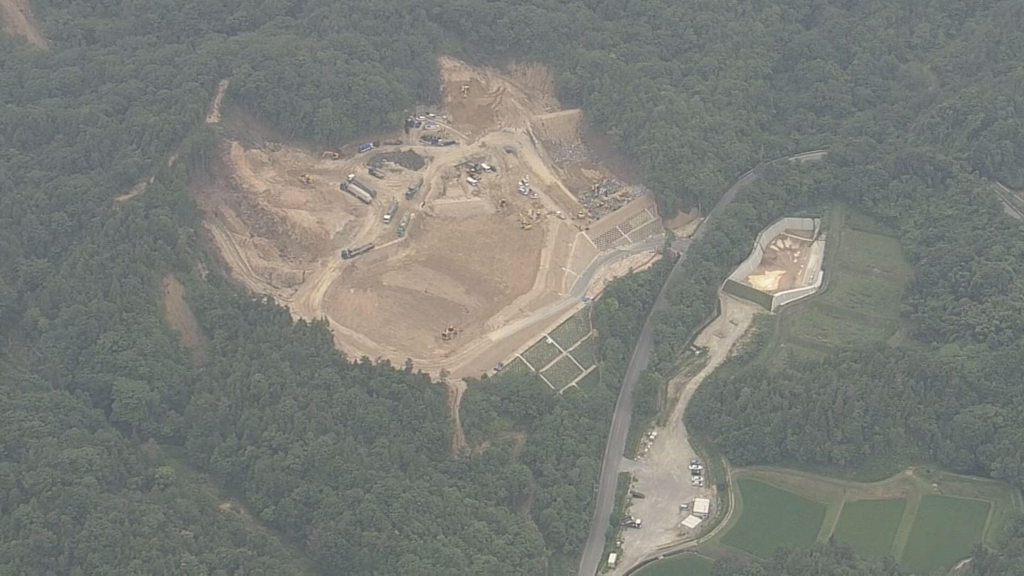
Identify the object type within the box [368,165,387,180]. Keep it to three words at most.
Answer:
vehicle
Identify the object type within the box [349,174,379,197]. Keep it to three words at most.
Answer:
truck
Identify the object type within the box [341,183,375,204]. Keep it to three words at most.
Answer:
truck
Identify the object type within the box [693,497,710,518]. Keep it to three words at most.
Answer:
building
